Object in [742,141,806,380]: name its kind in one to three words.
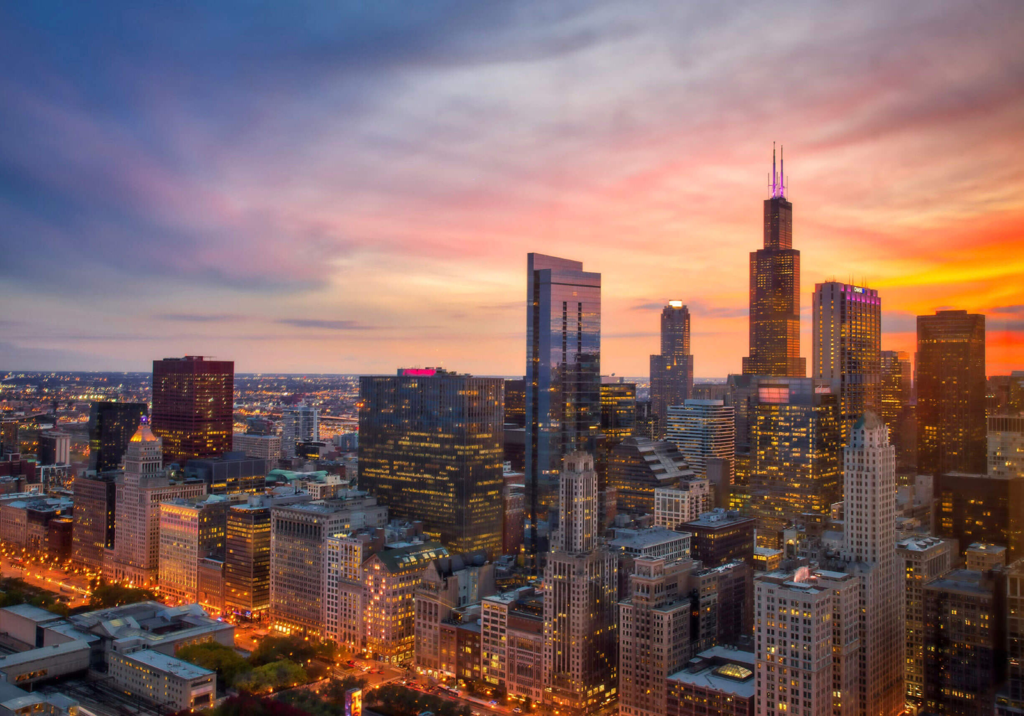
building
